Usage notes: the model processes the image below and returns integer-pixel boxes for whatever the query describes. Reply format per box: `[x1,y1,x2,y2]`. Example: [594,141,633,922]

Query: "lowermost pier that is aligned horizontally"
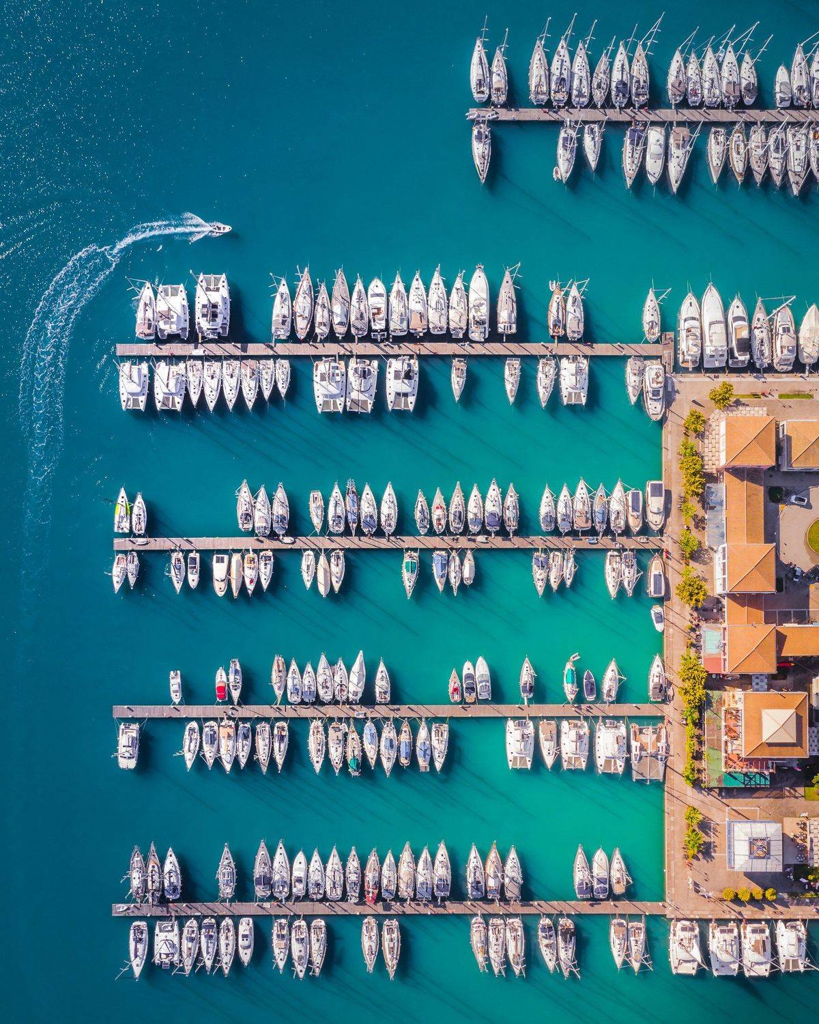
[112,901,666,916]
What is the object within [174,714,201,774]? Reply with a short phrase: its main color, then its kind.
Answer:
white boat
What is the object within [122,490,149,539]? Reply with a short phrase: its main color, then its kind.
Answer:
white boat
